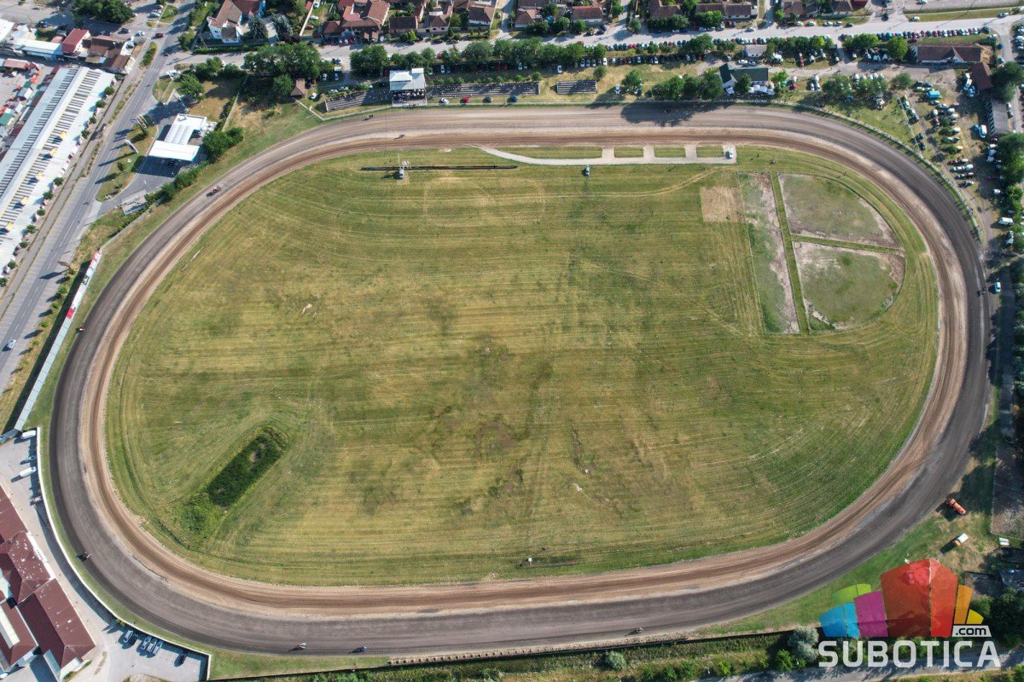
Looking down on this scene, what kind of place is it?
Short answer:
sports ground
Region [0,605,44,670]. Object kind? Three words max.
building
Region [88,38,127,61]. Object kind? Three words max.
house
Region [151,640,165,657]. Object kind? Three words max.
car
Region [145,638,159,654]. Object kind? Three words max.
car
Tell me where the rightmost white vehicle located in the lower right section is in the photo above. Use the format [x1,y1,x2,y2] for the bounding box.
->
[951,532,971,548]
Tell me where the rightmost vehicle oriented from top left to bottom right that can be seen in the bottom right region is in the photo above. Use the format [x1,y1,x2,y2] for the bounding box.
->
[943,495,970,517]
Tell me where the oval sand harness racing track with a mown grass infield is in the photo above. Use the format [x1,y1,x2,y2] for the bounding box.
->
[49,105,990,658]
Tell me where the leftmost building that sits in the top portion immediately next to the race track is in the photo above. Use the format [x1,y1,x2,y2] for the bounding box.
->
[0,67,118,292]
